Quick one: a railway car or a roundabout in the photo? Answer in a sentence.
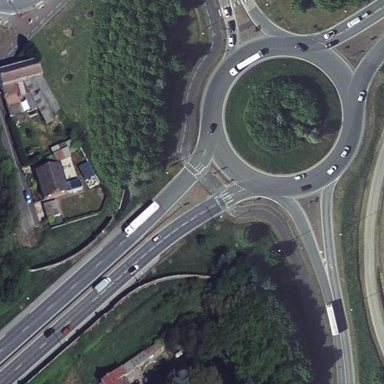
The one in the frame is a roundabout.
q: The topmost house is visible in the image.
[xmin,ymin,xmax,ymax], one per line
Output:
[0,56,43,84]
